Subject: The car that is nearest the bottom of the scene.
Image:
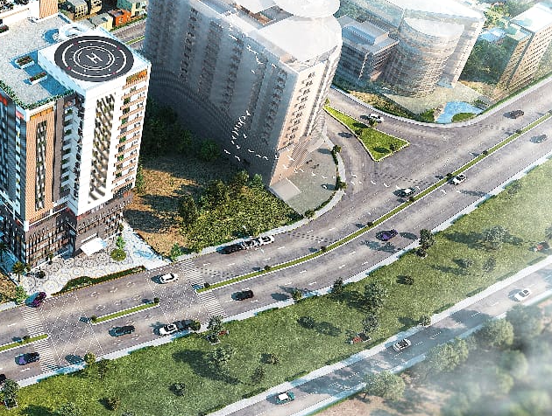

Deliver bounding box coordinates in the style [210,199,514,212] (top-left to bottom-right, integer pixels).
[274,391,295,405]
